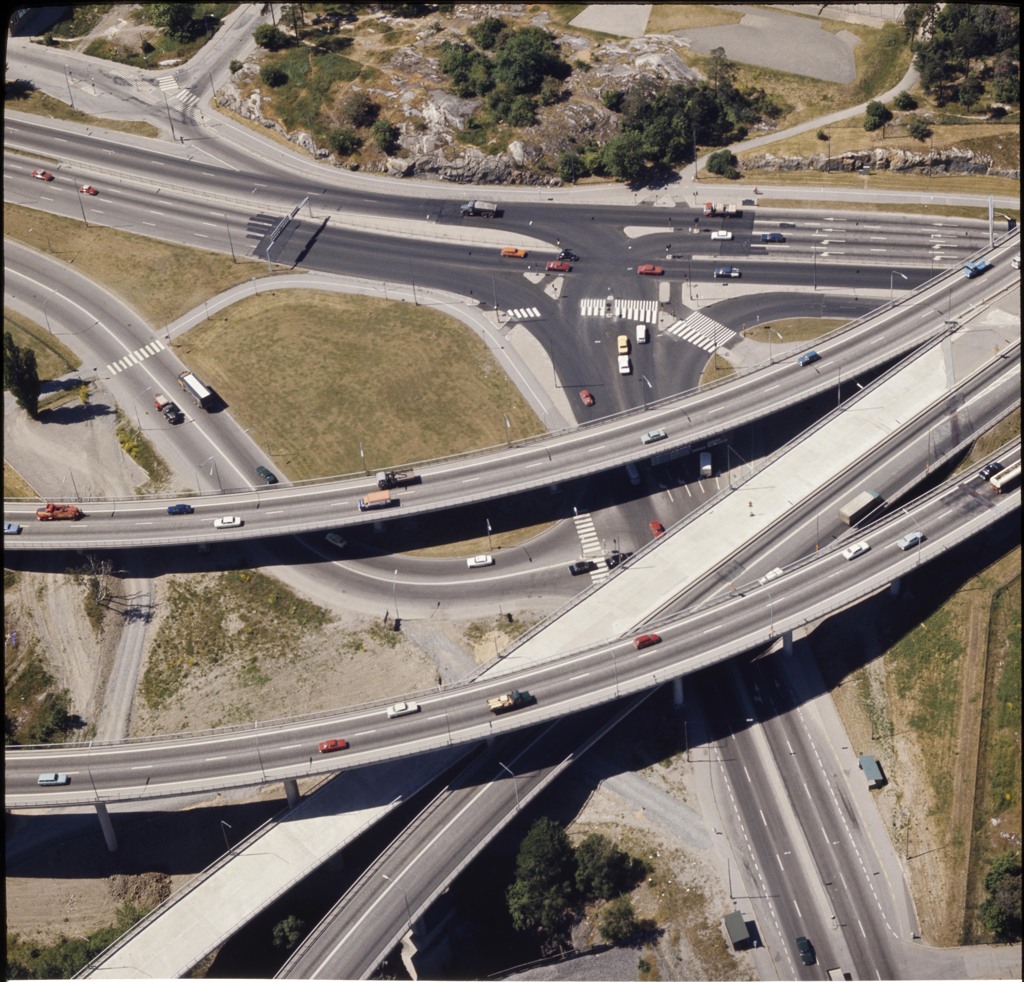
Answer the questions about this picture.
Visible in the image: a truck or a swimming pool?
truck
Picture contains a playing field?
Yes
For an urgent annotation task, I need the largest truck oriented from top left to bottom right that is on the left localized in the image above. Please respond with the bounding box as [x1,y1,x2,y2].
[176,367,214,403]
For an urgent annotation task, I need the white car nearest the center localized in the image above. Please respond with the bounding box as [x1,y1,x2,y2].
[467,555,493,568]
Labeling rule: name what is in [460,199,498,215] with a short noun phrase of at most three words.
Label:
vehicle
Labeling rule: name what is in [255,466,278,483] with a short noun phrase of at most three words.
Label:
car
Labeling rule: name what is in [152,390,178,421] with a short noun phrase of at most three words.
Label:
truck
